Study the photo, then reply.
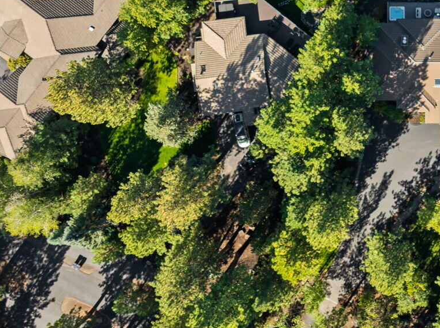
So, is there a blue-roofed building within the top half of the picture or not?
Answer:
No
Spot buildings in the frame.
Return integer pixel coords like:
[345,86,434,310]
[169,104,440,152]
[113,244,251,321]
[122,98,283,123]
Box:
[374,19,440,124]
[0,0,124,159]
[190,16,301,126]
